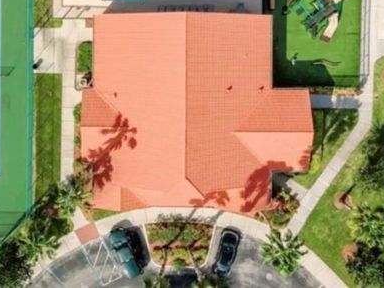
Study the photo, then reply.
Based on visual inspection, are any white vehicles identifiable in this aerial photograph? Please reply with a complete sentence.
No, the frame has no white vehicle in it.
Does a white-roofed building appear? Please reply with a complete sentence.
No, I can see no white-roofed building in this picture.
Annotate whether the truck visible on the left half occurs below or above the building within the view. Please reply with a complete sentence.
In the image, the truck visible on the left half sits below the building.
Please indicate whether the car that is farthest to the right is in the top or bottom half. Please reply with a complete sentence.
Seen from above, the car that is farthest to the right lies in the bottom half of the view.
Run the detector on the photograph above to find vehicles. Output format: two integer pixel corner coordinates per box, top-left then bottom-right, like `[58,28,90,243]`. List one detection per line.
[109,227,142,279]
[217,230,241,275]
